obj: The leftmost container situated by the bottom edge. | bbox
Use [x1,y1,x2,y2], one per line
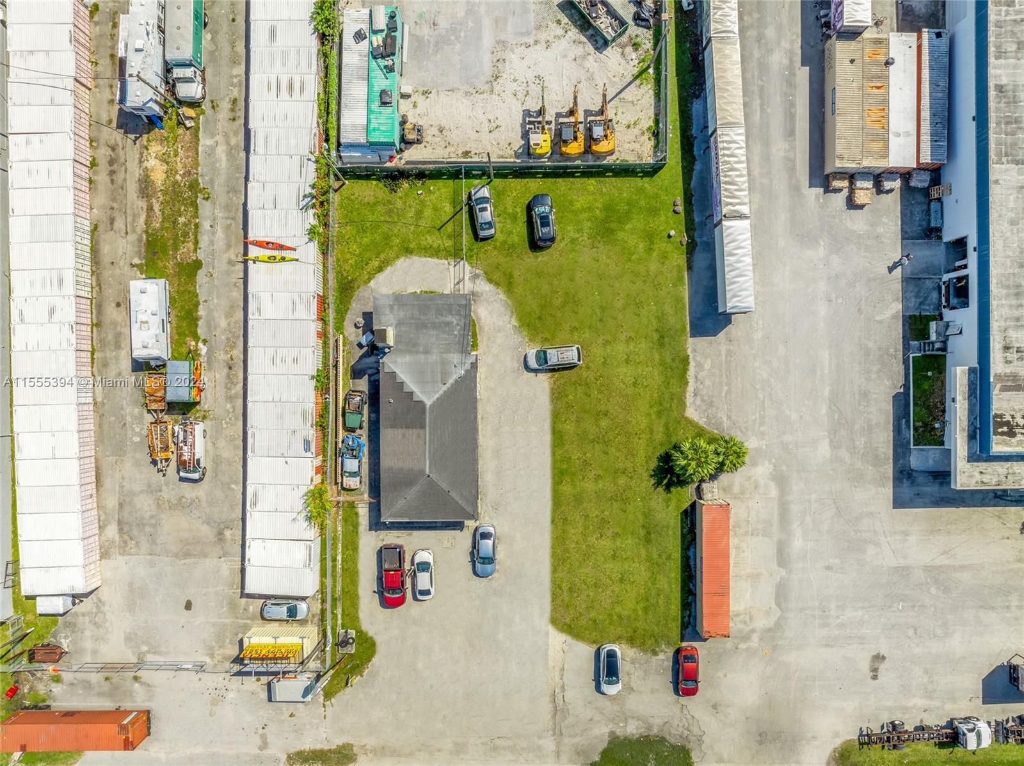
[0,702,153,752]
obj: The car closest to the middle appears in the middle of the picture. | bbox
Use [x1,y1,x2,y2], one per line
[526,346,582,374]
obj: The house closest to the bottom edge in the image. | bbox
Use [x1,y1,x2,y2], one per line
[373,294,478,521]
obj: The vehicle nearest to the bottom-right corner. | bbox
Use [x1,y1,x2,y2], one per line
[993,716,1024,754]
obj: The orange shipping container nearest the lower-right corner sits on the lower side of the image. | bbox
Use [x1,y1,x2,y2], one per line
[695,497,730,639]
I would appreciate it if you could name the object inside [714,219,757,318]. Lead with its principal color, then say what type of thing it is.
white trailer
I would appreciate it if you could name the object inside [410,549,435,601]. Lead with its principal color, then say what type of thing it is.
white car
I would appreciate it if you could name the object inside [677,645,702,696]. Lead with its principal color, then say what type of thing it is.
red car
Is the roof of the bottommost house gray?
Yes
